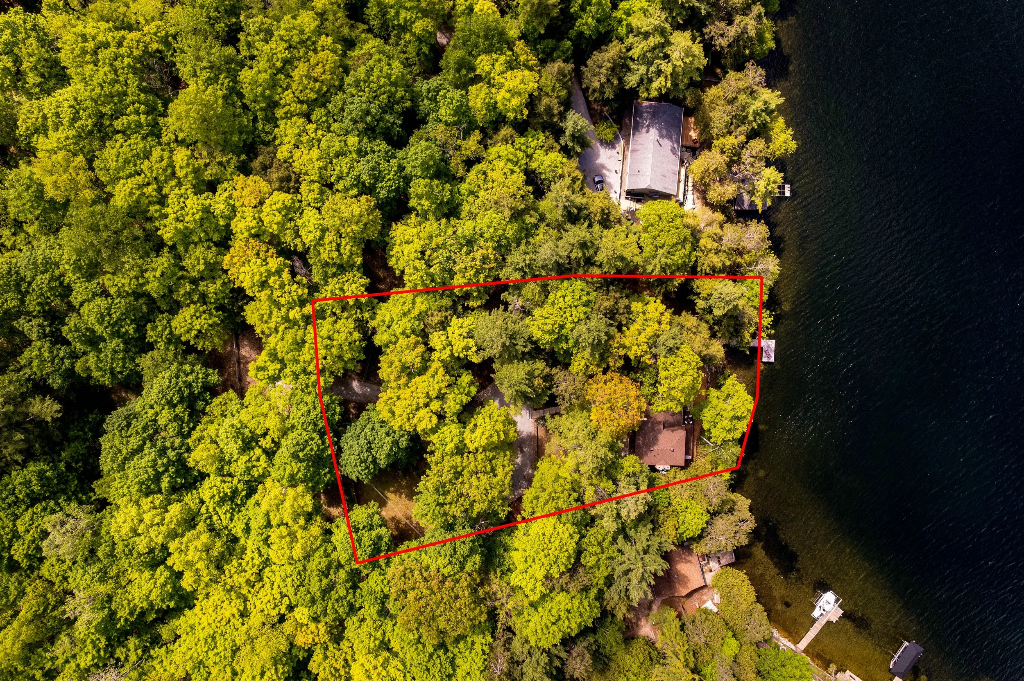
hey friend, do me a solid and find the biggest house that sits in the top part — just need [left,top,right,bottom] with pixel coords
[623,100,684,207]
